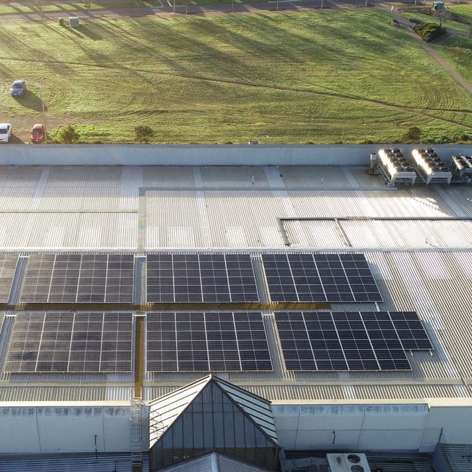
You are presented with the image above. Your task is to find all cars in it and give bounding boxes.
[9,79,25,95]
[0,125,13,141]
[31,124,47,141]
